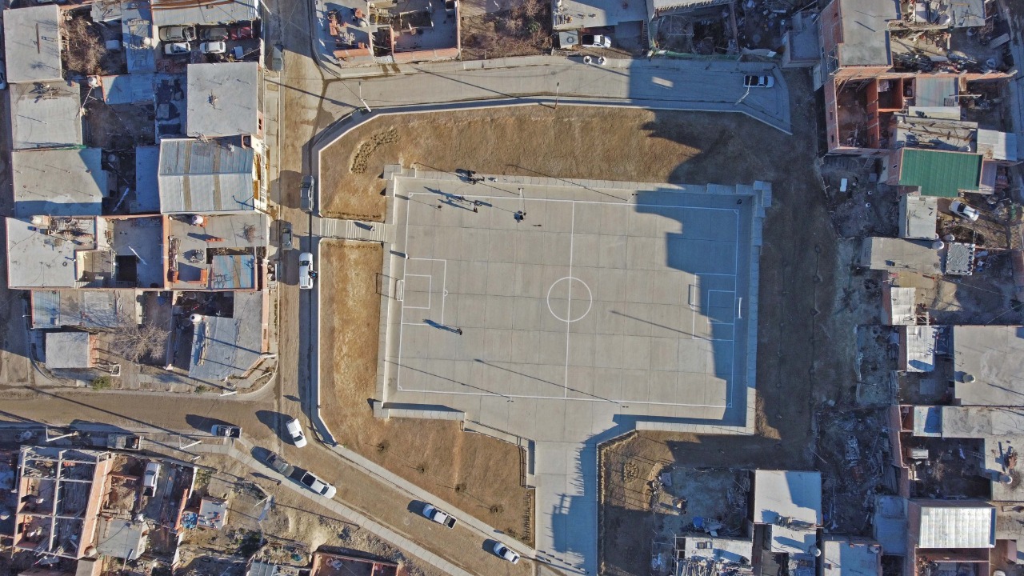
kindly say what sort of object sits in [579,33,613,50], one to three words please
vehicle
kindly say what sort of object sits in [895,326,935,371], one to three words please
house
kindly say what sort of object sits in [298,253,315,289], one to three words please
car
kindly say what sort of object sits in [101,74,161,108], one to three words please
shed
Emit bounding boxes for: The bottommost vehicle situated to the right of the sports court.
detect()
[944,199,982,223]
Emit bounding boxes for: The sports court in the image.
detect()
[385,174,750,569]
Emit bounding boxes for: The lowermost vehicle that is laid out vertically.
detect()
[143,460,163,497]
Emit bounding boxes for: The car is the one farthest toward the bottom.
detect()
[491,541,522,563]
